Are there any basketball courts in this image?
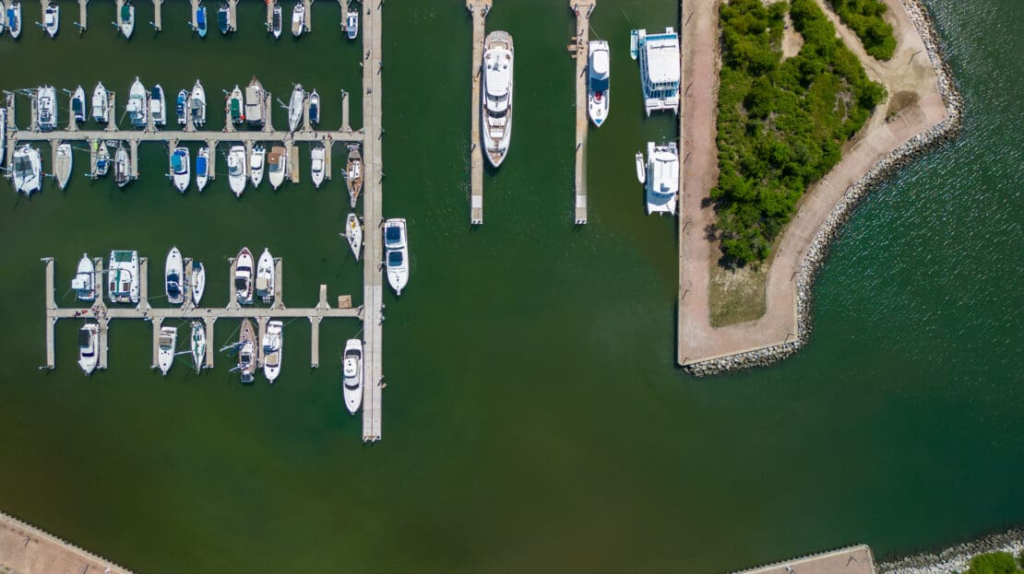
No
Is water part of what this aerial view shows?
Yes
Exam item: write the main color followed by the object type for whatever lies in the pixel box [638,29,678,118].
white ship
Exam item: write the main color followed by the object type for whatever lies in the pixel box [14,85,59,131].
white boat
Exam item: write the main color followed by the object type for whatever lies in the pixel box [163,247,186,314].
white boat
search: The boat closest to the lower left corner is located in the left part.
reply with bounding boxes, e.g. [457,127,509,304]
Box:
[78,315,100,376]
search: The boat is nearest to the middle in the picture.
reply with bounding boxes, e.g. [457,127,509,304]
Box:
[381,219,408,297]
